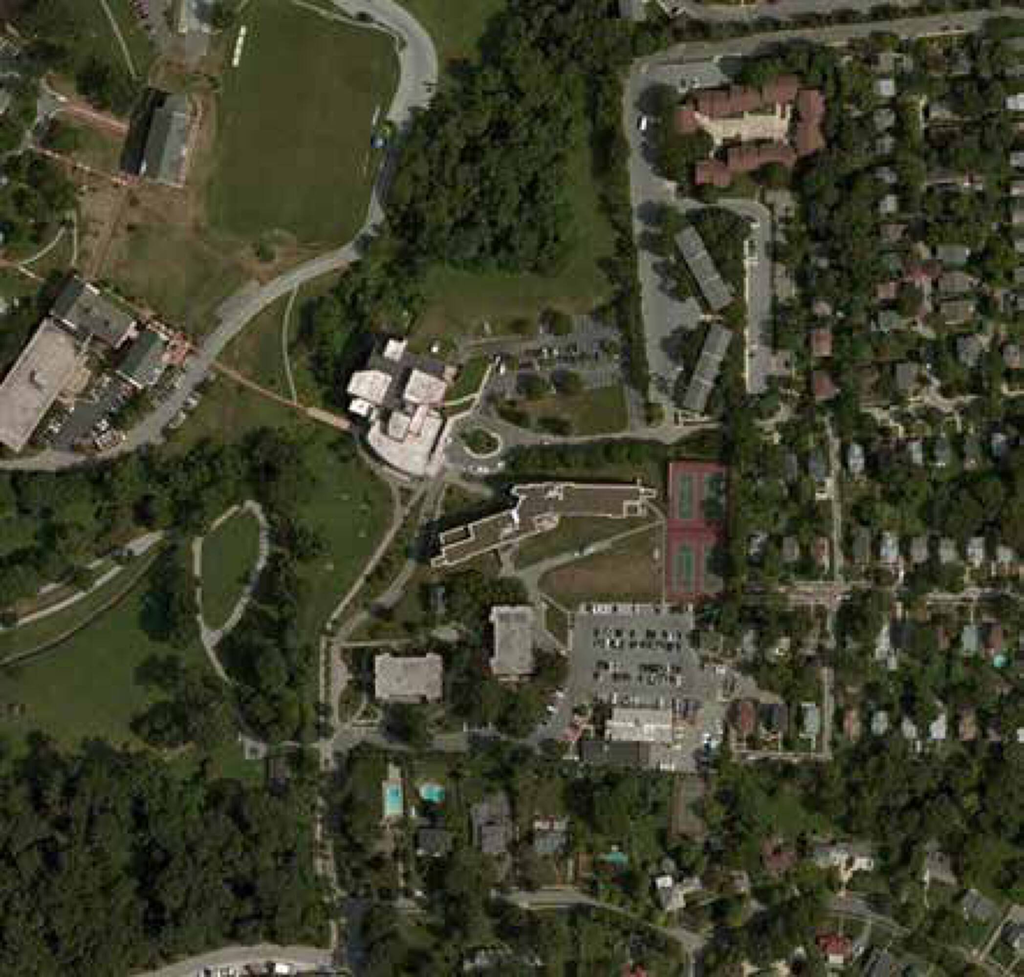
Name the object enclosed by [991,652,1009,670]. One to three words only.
swimming pool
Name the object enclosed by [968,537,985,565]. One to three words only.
house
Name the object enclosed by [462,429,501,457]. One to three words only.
roundabout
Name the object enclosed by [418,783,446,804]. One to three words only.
swimming pool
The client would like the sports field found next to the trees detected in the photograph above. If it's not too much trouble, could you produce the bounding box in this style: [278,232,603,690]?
[212,13,397,260]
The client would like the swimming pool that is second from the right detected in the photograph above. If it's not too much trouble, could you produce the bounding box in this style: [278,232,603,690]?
[596,851,630,866]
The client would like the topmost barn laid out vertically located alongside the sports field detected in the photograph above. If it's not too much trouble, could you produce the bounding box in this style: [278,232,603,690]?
[140,94,187,188]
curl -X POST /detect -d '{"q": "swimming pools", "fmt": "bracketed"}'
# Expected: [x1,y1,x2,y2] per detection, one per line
[991,652,1009,670]
[596,851,630,866]
[383,779,404,819]
[418,783,446,804]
